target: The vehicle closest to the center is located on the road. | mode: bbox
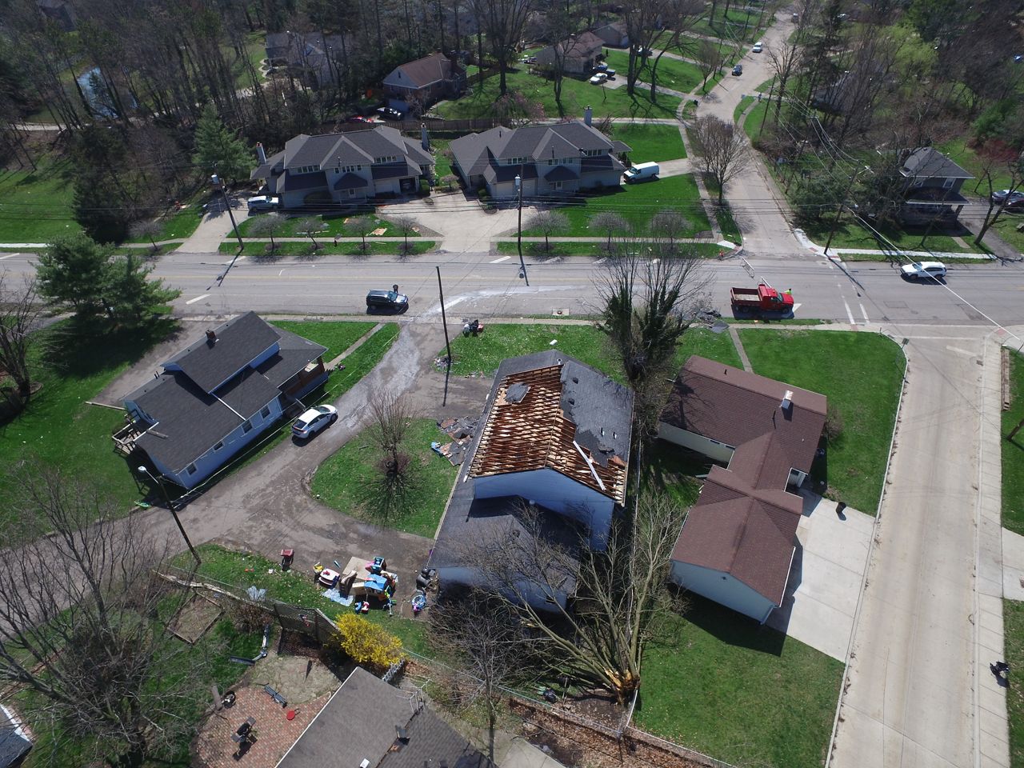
[364,286,412,310]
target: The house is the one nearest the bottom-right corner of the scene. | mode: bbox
[659,356,827,622]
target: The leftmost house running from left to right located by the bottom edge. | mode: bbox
[273,668,495,768]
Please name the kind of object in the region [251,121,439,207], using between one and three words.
house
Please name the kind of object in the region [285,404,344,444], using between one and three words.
car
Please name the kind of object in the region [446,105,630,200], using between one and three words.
house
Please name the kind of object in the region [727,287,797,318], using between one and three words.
truck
